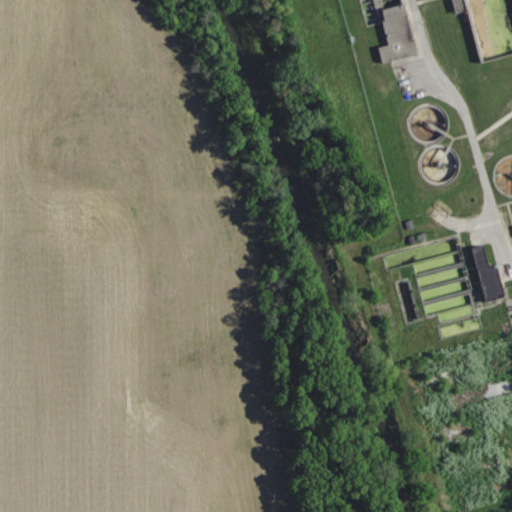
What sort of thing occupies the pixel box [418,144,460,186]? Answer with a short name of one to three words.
storage tank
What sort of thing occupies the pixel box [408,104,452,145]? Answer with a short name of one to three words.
storage tank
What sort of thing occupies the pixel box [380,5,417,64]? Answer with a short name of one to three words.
building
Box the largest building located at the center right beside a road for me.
[472,246,505,302]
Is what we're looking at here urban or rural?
rural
